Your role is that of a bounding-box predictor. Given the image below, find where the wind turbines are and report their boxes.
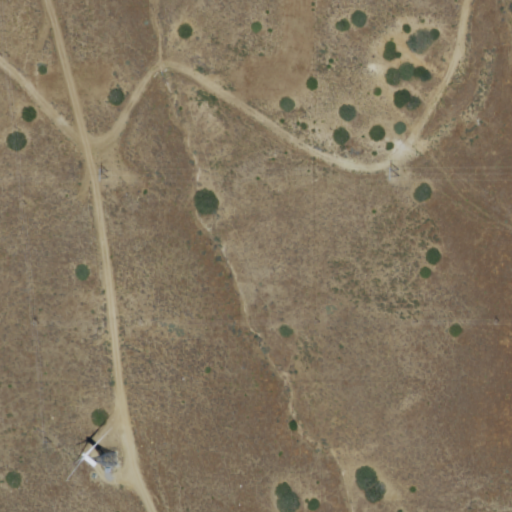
[69,430,118,484]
